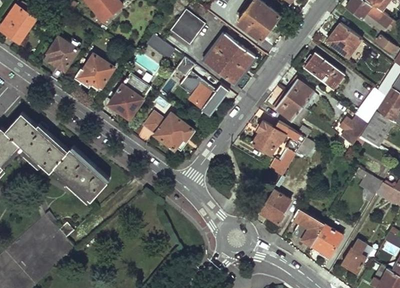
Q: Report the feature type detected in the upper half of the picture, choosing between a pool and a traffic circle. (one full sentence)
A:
Looking in the upper half of the picture, you will find a pool.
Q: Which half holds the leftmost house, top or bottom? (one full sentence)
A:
You can find the leftmost house in the top half.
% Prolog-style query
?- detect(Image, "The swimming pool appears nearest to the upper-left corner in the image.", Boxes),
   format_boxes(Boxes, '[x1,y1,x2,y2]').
[136,54,159,74]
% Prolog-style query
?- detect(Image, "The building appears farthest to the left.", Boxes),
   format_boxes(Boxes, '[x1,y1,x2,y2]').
[0,3,36,46]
